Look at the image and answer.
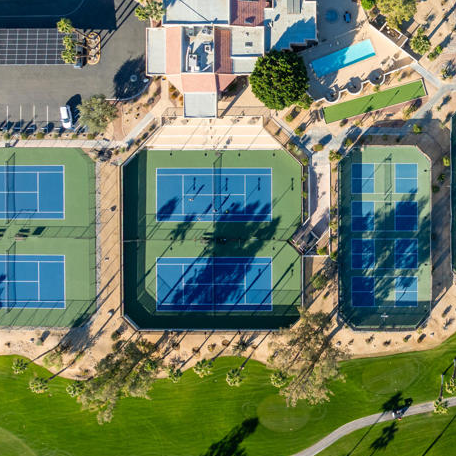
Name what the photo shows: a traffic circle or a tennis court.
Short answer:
tennis court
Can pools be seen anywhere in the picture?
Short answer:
Yes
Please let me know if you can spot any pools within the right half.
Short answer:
Yes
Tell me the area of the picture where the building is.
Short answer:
top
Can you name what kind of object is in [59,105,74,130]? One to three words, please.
vehicle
